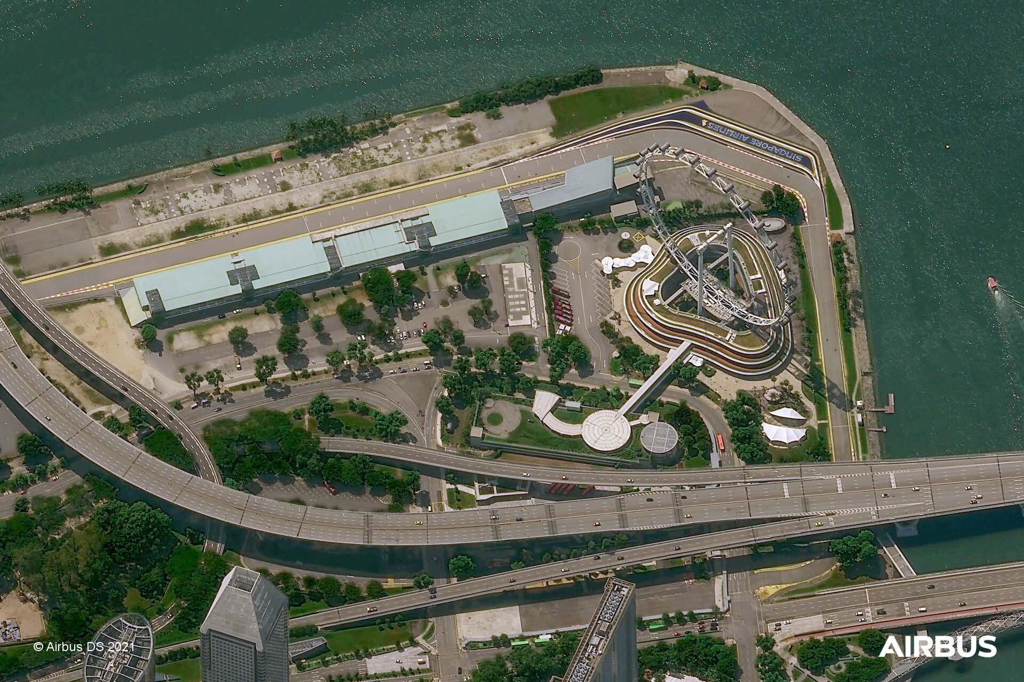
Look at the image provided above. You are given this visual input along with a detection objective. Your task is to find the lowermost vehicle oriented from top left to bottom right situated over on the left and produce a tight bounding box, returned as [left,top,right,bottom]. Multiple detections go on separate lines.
[323,482,338,498]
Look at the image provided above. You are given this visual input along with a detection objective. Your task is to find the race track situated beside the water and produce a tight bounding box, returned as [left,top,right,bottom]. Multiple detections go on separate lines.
[0,100,855,462]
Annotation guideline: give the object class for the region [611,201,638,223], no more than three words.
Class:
shed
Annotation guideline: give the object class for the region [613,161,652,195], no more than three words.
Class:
house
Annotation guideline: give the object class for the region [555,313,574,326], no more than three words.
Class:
vehicle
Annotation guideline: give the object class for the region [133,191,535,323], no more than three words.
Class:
building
